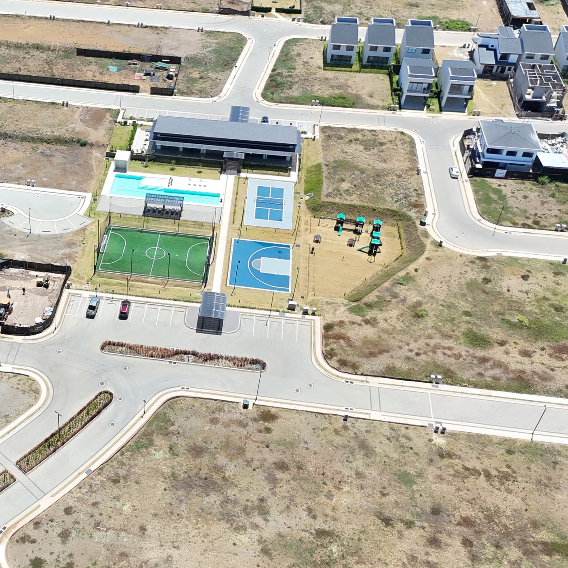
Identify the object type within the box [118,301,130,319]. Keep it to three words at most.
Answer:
vehicle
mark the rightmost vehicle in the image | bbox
[449,167,461,179]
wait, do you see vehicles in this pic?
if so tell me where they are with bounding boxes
[449,167,461,179]
[33,271,53,288]
[118,301,130,319]
[85,298,98,318]
[261,115,269,124]
[0,299,15,329]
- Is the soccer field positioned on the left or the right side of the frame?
left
